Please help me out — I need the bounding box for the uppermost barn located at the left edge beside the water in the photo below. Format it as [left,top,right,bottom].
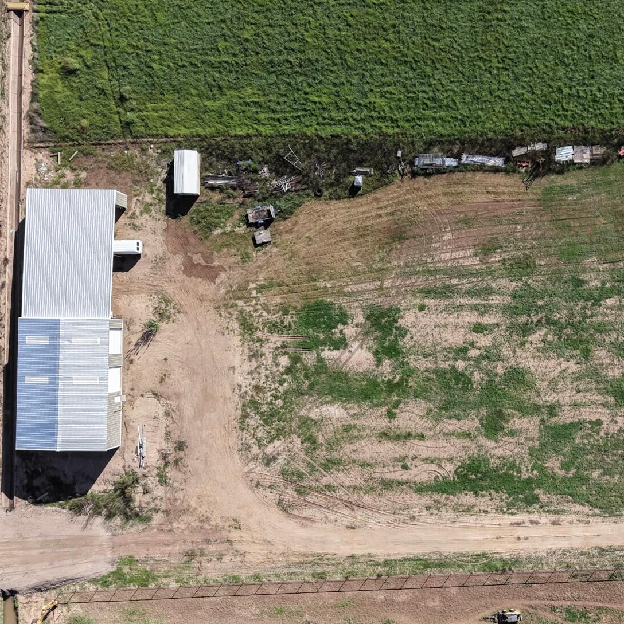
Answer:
[21,188,126,318]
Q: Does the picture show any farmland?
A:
Yes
